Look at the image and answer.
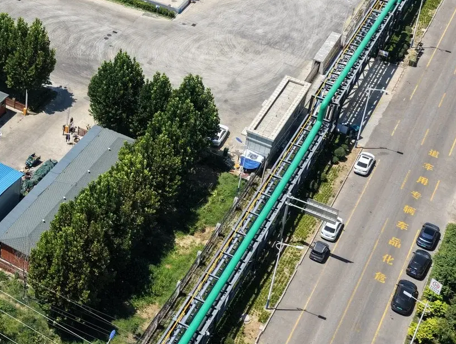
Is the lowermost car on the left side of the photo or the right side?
right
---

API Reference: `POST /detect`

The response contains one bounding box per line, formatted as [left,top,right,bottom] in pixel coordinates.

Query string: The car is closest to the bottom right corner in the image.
[392,282,420,315]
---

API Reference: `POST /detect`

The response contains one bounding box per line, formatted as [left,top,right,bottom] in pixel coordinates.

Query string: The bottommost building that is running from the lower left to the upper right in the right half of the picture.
[238,74,317,169]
